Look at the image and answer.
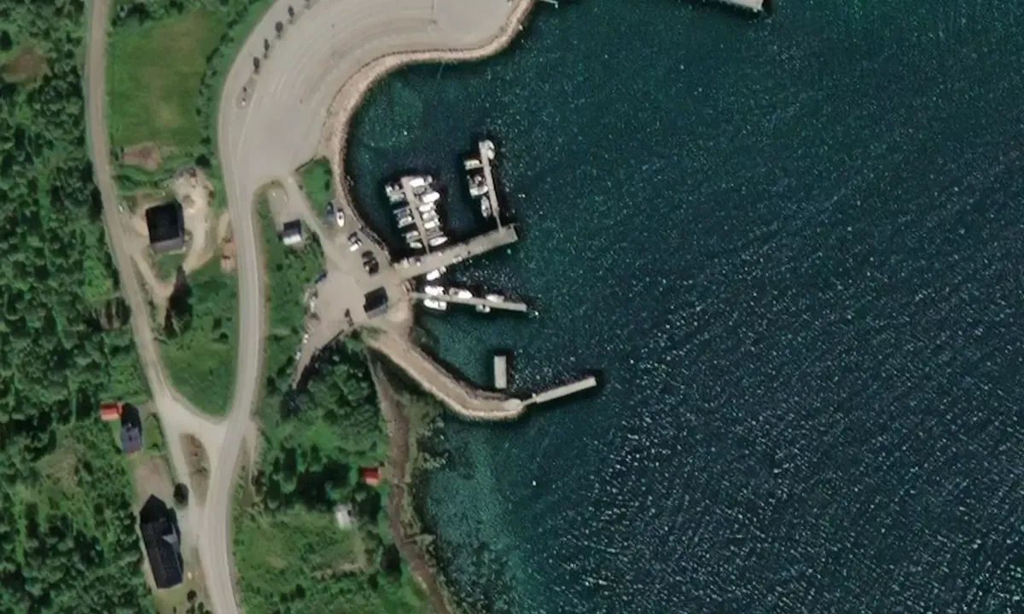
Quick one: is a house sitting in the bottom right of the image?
No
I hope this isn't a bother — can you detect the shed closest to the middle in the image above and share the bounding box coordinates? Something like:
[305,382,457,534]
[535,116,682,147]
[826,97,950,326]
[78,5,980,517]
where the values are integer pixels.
[363,297,388,318]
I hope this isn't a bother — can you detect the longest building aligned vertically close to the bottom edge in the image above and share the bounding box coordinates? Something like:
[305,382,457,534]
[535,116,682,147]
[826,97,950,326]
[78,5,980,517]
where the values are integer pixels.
[138,519,183,592]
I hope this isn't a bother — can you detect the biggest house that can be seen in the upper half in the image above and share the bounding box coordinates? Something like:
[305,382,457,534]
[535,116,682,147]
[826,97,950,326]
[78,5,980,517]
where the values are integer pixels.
[144,215,182,253]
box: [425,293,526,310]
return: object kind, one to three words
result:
pier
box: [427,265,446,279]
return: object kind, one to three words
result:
boat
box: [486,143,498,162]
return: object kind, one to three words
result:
boat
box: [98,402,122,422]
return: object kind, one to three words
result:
shed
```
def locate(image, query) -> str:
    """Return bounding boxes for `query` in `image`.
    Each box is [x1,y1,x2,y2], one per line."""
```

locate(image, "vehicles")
[349,241,362,251]
[326,202,333,217]
[314,271,327,284]
[367,262,381,273]
[363,256,378,268]
[360,250,375,260]
[347,233,362,244]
